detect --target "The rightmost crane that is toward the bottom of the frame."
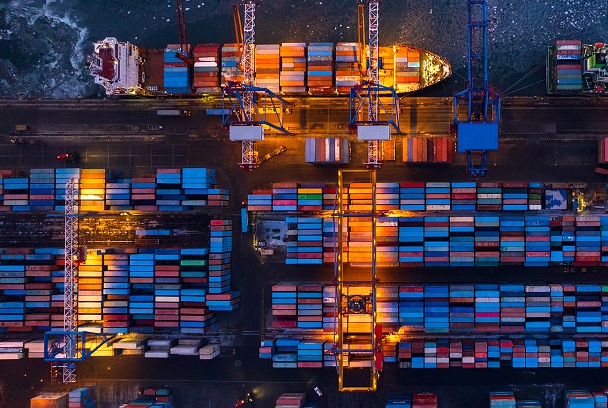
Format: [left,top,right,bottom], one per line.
[333,169,387,390]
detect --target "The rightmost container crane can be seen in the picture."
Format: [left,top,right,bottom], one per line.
[446,0,501,183]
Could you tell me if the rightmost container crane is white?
No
